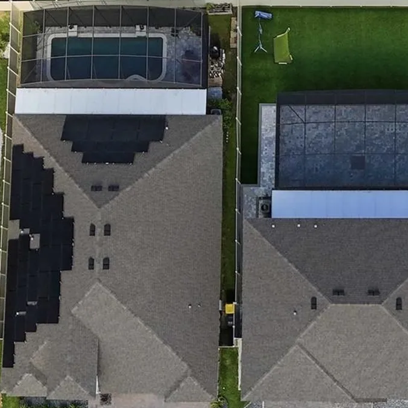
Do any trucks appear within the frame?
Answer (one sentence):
No, the frame has no truck in it.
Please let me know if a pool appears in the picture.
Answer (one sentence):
Yes, you can see a pool in this photo.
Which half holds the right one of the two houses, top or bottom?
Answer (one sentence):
The right one of the two houses is in the bottom half of the image.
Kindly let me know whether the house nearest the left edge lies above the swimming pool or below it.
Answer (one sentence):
Looking at the photo, you'll find the house nearest the left edge below the swimming pool.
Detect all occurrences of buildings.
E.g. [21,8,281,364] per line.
[1,88,224,402]
[241,190,408,403]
